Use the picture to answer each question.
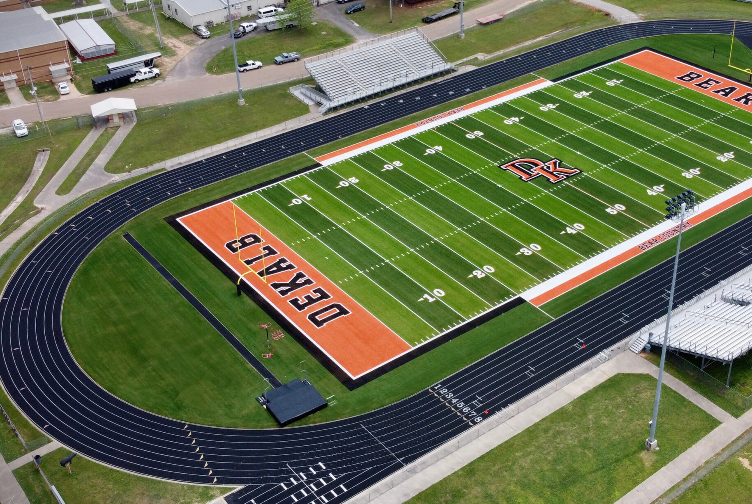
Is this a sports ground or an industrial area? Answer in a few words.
sports ground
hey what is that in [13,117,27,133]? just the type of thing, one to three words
vehicle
